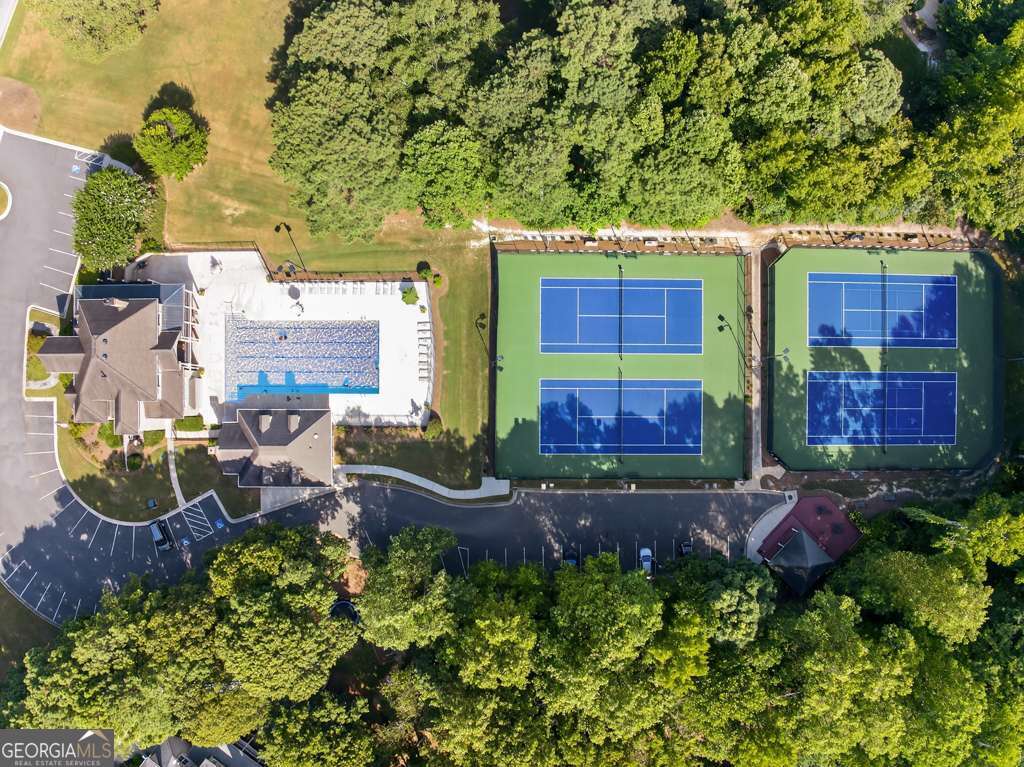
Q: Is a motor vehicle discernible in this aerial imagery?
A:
Yes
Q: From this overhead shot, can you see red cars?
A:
No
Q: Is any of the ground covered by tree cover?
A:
Yes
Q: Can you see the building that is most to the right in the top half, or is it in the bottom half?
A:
bottom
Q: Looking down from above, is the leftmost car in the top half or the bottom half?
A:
bottom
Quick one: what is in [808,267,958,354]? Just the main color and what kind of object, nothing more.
blue tennis court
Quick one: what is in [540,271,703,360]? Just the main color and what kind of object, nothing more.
blue tennis court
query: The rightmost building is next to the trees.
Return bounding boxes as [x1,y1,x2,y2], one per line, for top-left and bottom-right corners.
[765,527,835,595]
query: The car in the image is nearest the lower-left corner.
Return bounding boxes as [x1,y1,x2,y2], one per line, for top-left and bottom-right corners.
[147,520,172,553]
